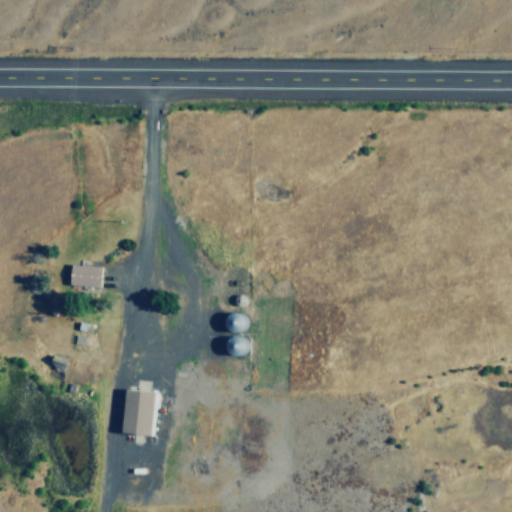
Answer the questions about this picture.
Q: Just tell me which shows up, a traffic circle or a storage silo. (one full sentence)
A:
Of the two, only a storage silo appears.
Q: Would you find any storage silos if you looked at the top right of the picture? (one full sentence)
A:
No, no storage silo is visible at the top right of the picture.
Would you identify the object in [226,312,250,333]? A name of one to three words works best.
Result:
silo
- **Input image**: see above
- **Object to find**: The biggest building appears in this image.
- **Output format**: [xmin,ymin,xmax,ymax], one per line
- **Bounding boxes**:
[124,390,164,436]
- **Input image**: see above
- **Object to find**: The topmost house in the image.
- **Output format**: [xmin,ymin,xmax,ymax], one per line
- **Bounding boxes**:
[70,260,104,290]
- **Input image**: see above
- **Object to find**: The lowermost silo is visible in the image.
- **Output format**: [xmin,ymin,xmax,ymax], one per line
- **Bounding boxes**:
[226,336,250,356]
